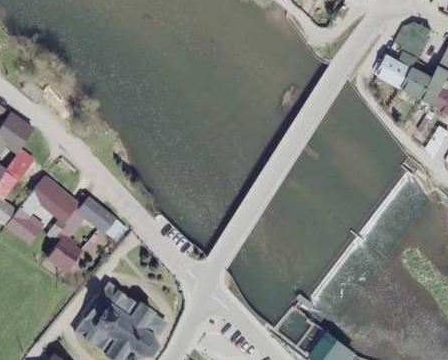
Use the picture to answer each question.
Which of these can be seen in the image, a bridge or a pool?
bridge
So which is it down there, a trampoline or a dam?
dam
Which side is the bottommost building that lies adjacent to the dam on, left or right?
right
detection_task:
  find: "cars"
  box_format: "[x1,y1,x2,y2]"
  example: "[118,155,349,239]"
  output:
[176,234,184,244]
[222,322,230,333]
[163,224,171,236]
[247,344,255,355]
[182,242,191,253]
[231,330,239,341]
[169,229,177,240]
[241,339,249,351]
[426,45,434,55]
[236,336,244,346]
